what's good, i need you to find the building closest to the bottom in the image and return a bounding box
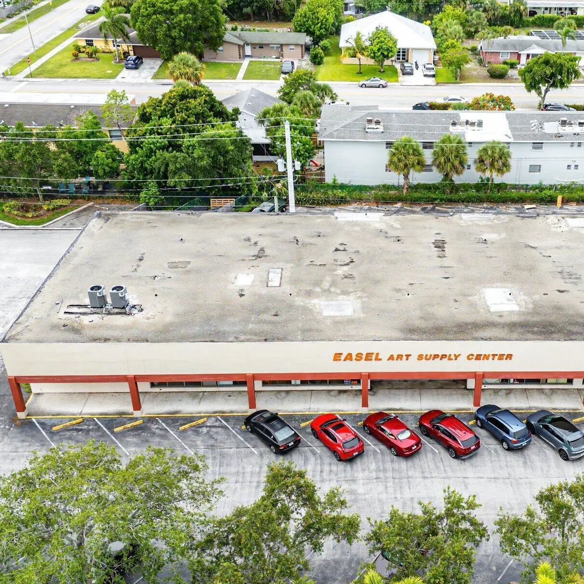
[0,208,584,419]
